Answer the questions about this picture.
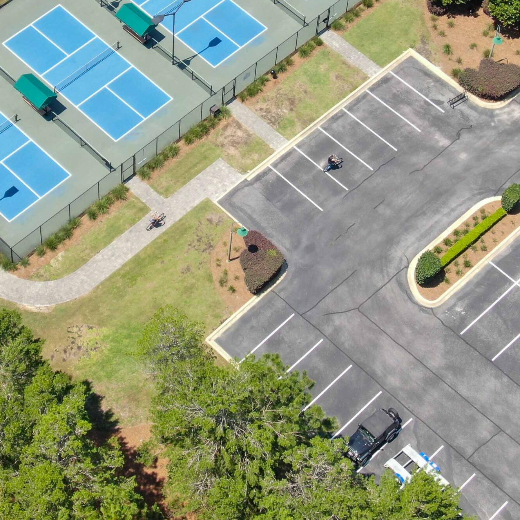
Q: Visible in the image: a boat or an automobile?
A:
automobile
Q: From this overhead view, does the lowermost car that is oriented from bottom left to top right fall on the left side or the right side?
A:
right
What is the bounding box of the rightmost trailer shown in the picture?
[383,444,461,515]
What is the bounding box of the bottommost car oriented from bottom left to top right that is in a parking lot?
[344,405,398,461]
